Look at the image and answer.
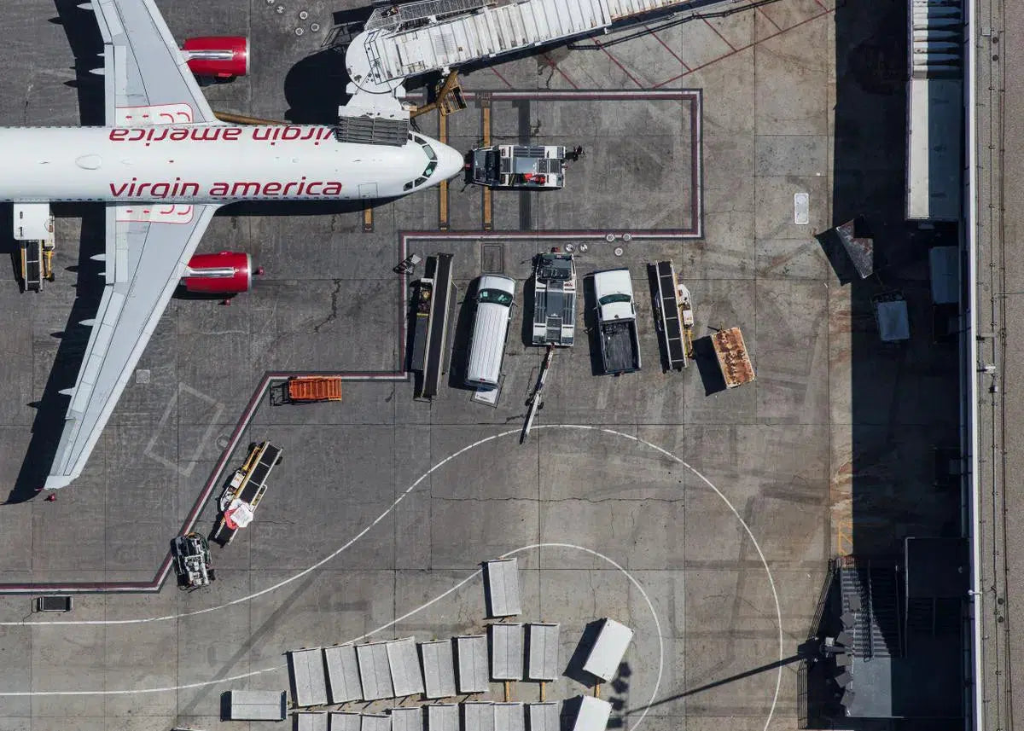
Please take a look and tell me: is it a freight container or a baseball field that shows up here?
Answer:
freight container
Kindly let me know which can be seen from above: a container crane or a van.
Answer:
van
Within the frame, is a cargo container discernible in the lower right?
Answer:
No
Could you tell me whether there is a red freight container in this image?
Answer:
No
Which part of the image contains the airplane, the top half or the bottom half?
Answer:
top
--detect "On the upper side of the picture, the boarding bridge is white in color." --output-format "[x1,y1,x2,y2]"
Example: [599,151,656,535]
[339,0,741,148]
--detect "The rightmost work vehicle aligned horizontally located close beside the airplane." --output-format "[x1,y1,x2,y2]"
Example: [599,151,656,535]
[470,142,569,191]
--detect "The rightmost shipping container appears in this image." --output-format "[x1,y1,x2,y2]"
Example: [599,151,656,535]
[926,247,955,304]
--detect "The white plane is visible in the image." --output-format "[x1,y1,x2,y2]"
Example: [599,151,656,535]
[0,0,464,490]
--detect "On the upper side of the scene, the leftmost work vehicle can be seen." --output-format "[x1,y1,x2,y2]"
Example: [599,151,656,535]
[20,211,60,297]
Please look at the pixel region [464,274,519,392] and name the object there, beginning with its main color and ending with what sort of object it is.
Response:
white van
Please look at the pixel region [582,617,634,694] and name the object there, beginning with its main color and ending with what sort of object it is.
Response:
white trailer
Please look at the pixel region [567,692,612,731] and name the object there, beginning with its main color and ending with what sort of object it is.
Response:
white trailer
